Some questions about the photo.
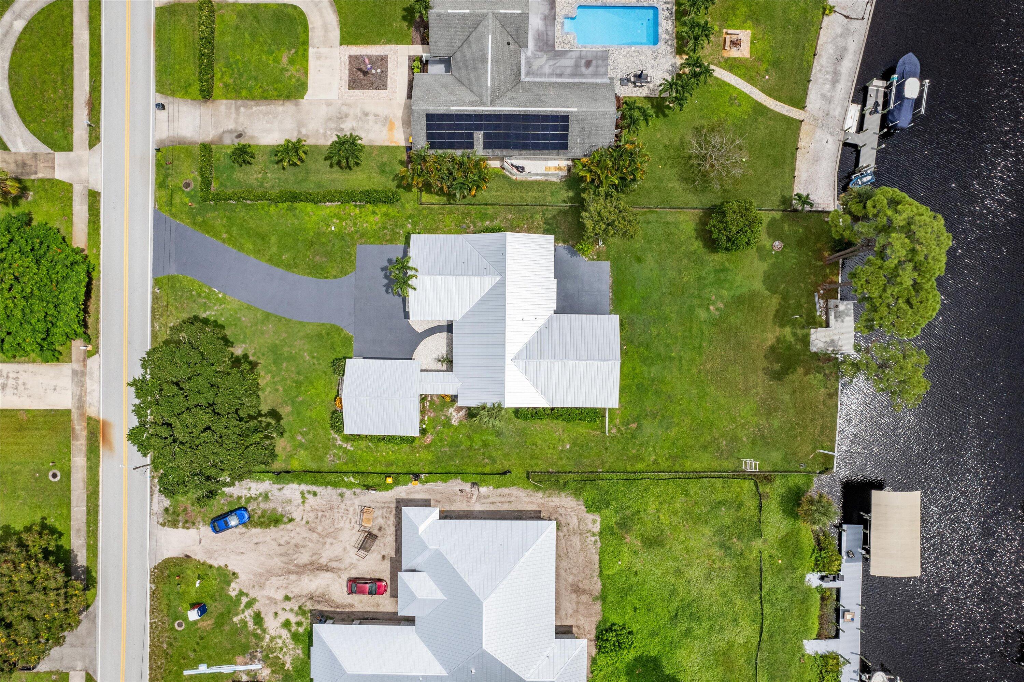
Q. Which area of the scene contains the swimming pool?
top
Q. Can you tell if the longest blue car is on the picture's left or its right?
left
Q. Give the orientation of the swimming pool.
horizontally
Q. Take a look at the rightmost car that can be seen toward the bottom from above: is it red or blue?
red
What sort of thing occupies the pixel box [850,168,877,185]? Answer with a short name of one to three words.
boat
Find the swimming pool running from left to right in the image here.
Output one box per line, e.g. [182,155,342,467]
[565,6,658,45]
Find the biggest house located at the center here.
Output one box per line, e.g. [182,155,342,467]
[409,231,621,410]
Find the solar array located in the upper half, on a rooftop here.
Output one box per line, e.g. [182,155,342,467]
[426,113,569,149]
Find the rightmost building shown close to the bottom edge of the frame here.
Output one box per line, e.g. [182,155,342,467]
[313,506,588,682]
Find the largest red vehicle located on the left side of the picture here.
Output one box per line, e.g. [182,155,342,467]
[347,576,388,597]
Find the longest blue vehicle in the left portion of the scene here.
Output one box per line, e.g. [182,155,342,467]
[209,507,250,535]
